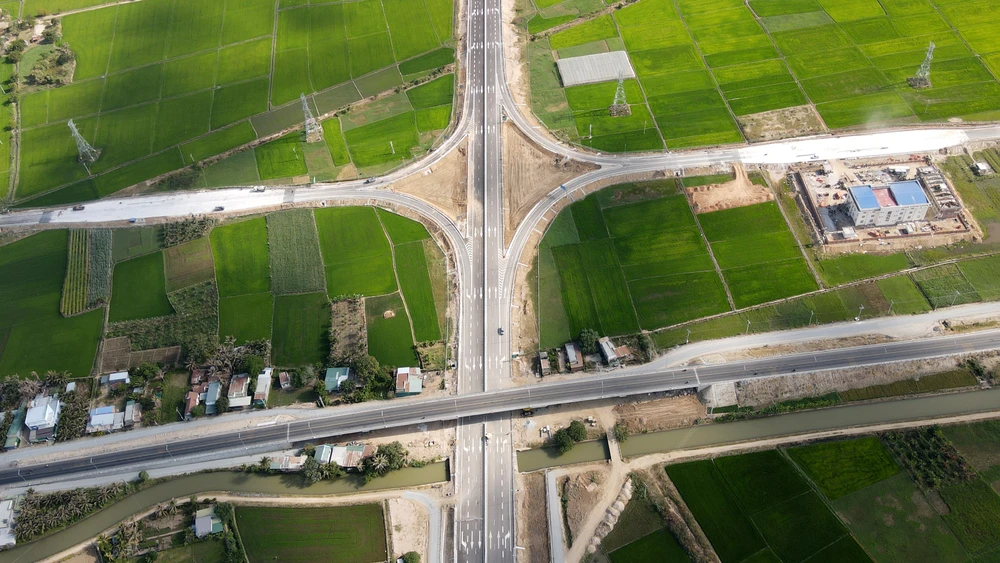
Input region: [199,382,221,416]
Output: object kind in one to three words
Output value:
house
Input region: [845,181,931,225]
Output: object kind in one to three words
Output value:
building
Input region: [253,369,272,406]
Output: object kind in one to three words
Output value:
house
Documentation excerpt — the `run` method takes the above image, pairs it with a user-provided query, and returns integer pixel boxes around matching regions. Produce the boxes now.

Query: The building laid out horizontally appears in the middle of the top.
[558,51,635,90]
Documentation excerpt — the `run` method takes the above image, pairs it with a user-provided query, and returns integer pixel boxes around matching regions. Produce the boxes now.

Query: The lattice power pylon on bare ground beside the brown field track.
[303,93,321,139]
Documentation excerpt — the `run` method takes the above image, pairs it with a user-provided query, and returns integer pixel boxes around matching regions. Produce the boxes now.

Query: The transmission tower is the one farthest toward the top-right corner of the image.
[910,43,933,88]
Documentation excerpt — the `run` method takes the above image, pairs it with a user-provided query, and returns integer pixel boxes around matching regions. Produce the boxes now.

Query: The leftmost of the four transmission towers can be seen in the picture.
[68,120,96,164]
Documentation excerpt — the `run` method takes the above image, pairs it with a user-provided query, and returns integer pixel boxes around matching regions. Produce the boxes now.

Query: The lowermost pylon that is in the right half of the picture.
[612,70,628,116]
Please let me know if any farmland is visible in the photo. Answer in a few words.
Yes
